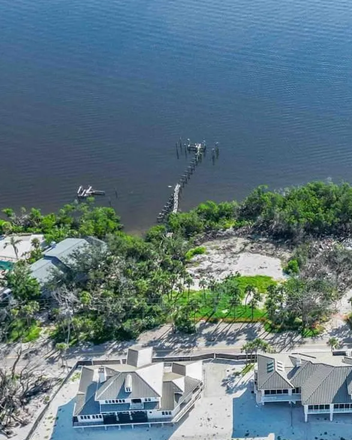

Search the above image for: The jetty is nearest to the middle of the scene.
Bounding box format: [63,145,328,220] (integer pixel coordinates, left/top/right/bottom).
[155,137,217,218]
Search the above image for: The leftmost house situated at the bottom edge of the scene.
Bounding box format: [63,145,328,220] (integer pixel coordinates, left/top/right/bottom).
[74,348,207,439]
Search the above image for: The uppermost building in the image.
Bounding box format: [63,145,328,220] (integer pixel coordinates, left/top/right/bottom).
[30,236,105,296]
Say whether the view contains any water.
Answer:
Yes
